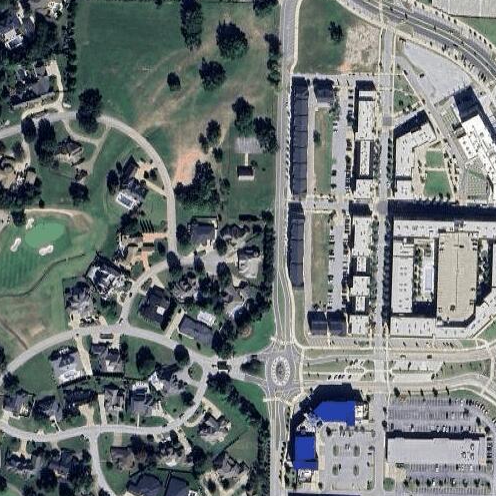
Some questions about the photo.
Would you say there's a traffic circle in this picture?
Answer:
Yes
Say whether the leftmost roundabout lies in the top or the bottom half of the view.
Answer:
bottom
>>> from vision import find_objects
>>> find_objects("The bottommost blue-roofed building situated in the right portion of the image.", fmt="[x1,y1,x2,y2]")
[295,435,317,470]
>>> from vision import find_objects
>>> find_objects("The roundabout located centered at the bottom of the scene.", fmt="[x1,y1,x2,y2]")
[246,336,301,403]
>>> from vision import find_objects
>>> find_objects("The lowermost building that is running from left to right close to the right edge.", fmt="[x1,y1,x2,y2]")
[387,437,479,464]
